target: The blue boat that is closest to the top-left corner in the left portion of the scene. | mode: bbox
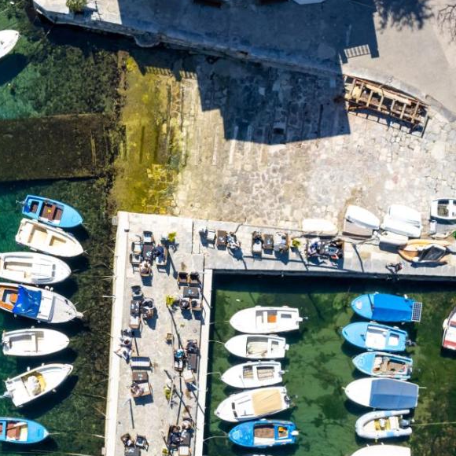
[16,196,112,227]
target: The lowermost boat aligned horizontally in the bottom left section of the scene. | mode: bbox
[0,418,59,445]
